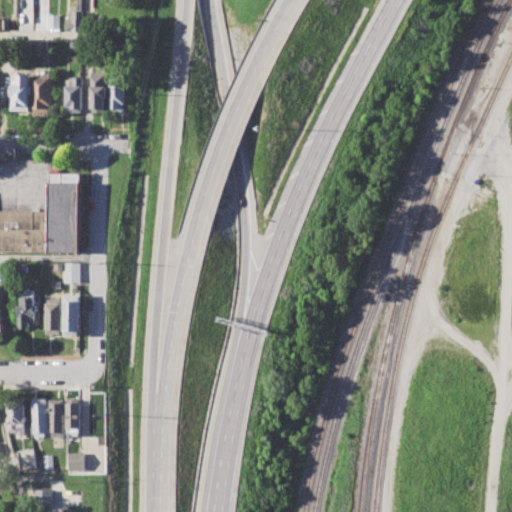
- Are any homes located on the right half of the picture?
No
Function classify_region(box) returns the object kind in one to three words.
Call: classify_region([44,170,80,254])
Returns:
building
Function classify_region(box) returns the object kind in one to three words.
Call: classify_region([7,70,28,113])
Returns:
house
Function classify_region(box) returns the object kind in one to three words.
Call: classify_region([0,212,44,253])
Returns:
building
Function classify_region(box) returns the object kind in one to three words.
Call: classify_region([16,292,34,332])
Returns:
house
